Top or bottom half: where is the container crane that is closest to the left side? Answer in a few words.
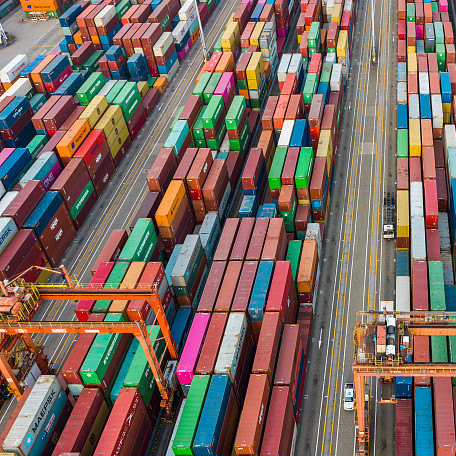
bottom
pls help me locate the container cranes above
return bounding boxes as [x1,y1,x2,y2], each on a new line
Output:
[0,267,183,428]
[349,313,456,456]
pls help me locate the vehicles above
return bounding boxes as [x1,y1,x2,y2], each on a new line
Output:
[381,188,395,236]
[340,379,354,408]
